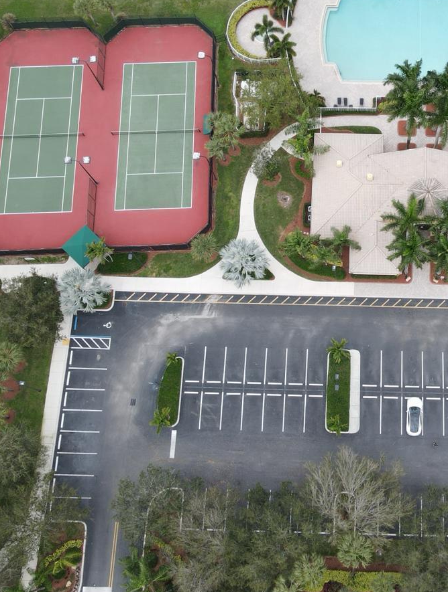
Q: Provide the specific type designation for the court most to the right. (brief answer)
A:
tennis court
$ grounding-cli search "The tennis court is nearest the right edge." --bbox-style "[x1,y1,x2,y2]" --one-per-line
[94,26,215,249]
